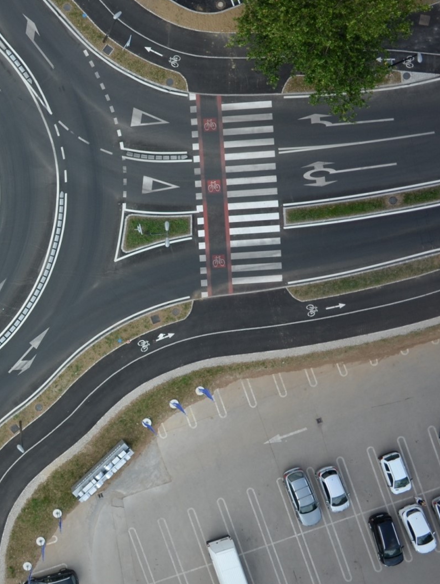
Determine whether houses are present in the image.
No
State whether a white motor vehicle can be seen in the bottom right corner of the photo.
Yes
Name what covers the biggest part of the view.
paved ground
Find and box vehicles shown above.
[394,504,437,555]
[425,492,440,529]
[376,446,412,495]
[201,532,248,584]
[361,509,407,567]
[23,567,79,584]
[279,467,322,524]
[311,461,352,513]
